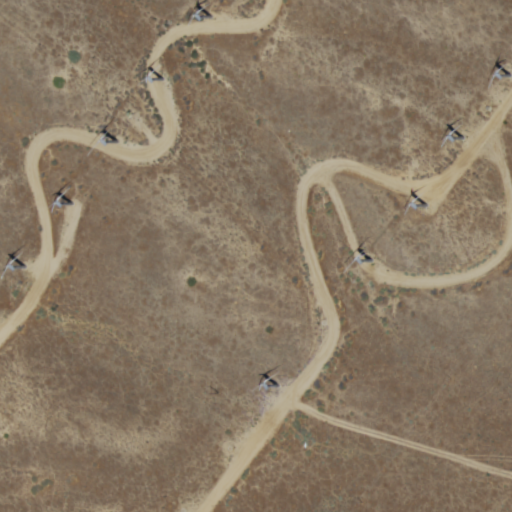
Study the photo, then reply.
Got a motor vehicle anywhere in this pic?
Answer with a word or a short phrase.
No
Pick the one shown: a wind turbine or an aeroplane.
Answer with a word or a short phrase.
wind turbine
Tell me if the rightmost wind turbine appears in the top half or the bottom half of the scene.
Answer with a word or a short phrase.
top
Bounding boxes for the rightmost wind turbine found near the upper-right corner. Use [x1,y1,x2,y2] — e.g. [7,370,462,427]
[490,57,512,84]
